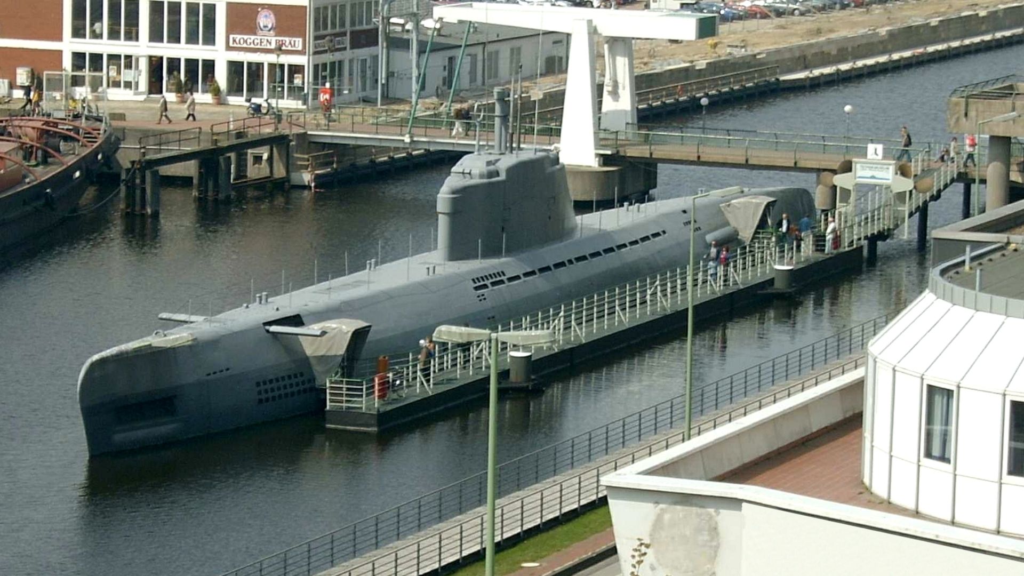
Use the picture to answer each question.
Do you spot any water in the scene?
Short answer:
Yes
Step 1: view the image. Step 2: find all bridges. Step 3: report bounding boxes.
[301,0,1024,221]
